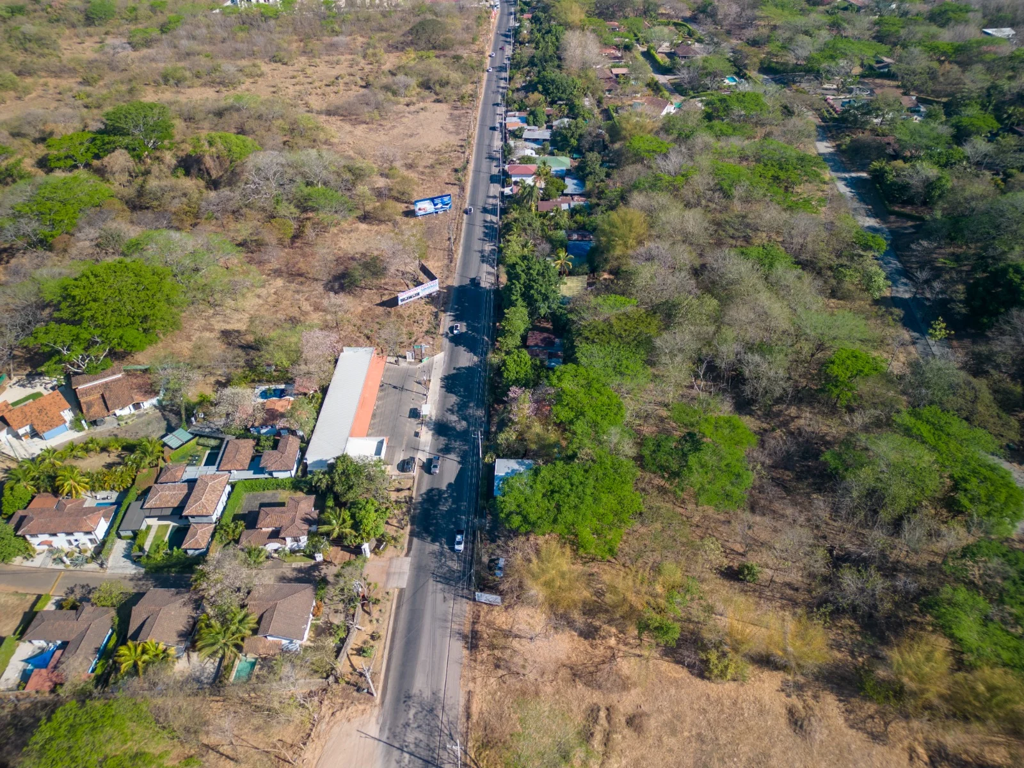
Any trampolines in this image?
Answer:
No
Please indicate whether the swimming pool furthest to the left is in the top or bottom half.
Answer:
bottom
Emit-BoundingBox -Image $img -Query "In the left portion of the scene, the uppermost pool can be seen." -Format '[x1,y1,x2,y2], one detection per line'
[254,386,289,402]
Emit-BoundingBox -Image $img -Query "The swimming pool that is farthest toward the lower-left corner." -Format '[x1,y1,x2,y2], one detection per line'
[18,666,38,688]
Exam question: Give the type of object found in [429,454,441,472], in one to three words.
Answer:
vehicle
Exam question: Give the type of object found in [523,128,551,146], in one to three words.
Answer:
house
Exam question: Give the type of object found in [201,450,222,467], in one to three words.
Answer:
swimming pool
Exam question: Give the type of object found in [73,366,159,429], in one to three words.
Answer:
house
